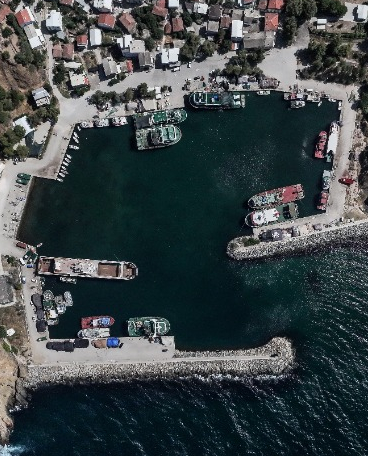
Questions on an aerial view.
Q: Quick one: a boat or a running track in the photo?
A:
boat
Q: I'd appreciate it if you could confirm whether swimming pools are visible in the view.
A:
No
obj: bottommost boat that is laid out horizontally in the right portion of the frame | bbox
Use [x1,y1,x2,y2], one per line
[249,202,303,226]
